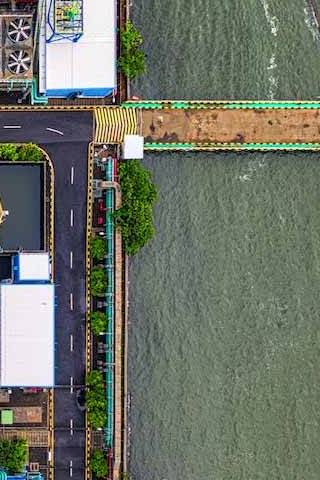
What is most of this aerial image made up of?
water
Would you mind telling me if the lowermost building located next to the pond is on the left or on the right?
left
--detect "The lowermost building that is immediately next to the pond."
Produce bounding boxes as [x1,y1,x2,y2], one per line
[0,284,55,387]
